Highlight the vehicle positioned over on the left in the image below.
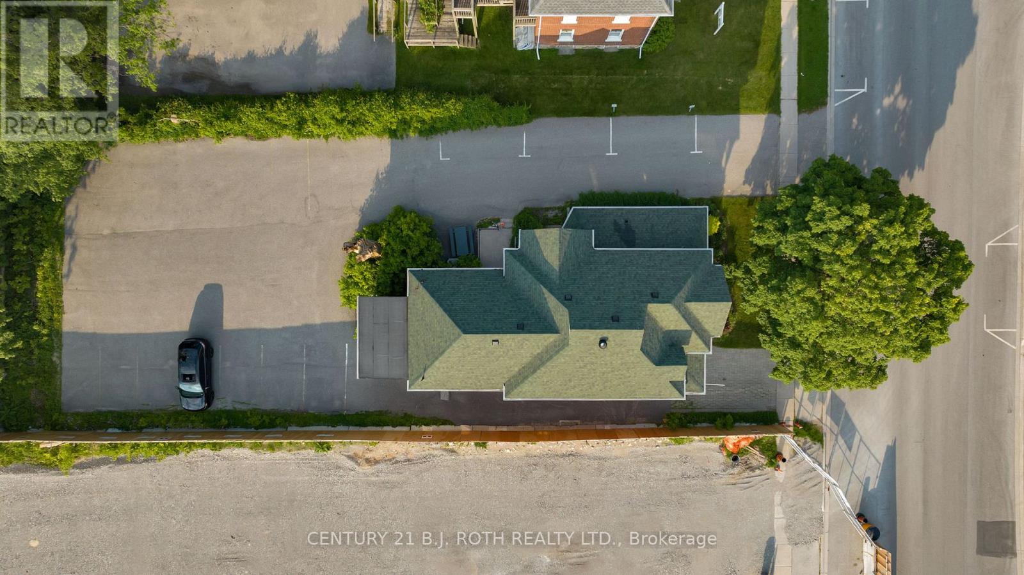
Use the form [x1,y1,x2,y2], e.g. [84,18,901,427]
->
[175,337,214,410]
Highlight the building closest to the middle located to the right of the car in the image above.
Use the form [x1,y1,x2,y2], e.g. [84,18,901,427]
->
[356,203,734,402]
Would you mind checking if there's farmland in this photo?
No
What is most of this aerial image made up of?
paved ground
